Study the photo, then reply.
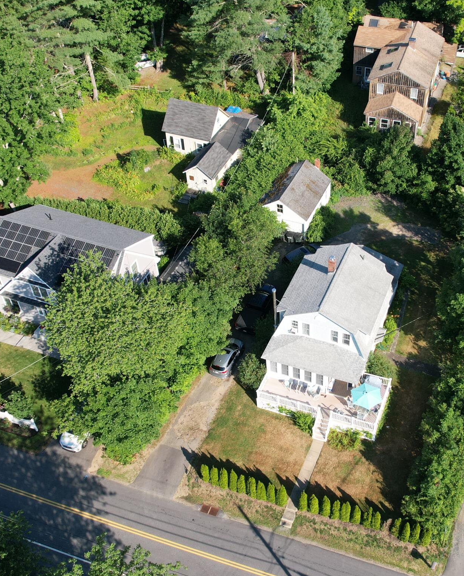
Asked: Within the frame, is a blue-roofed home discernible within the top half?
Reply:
No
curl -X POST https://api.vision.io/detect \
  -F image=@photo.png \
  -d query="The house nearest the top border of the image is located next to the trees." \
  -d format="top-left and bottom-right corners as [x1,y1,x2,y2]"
[353,19,461,136]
